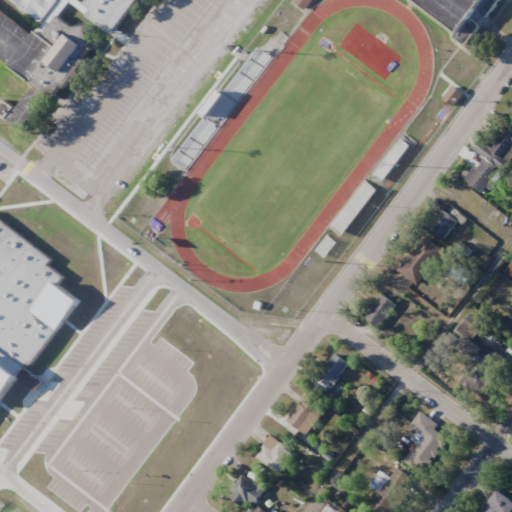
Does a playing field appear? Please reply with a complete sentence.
Yes, there is a playing field in the image.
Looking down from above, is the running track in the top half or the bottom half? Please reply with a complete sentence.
You can find the running track in the top half.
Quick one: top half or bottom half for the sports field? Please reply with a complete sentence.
The sports field is in the top half of the image.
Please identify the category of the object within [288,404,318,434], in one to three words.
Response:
house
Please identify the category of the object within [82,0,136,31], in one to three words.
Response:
building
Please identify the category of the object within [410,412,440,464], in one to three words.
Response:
house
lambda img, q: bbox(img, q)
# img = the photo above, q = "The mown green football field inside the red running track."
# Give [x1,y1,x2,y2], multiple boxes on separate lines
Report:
[186,2,420,282]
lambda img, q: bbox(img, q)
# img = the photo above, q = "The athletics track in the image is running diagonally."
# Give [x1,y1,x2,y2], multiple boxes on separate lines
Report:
[156,0,436,298]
